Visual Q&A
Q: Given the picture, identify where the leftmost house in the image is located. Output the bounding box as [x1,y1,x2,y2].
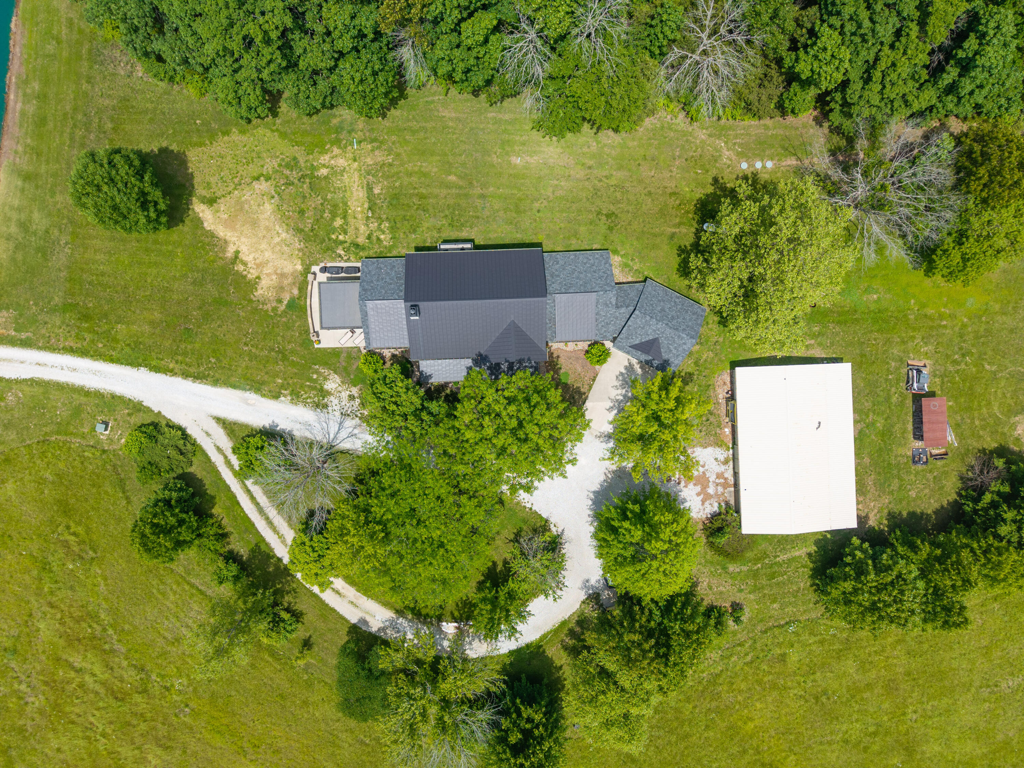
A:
[317,241,708,384]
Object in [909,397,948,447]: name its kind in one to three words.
shed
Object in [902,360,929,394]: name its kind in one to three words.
work vehicle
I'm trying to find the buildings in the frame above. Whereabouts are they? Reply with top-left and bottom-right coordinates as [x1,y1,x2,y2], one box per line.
[728,363,858,535]
[317,241,708,384]
[909,397,948,447]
